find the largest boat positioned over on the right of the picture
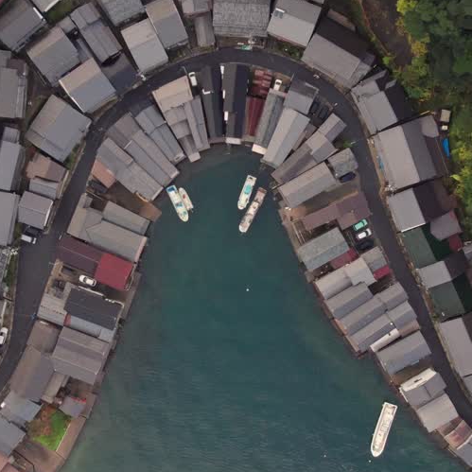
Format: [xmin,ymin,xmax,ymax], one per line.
[374,402,399,457]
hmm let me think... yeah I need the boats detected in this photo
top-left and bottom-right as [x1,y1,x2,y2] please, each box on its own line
[374,402,399,457]
[167,175,187,220]
[180,188,193,212]
[241,187,266,231]
[239,160,257,208]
